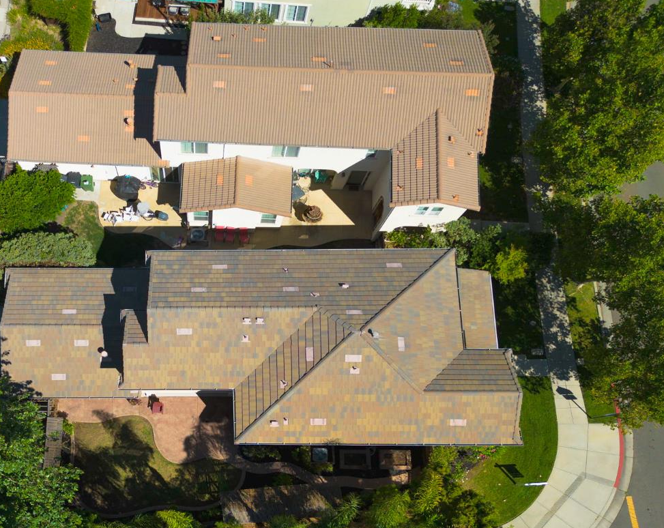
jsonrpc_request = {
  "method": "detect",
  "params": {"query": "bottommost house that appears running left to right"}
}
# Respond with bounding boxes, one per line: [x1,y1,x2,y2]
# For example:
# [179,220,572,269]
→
[0,247,531,447]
